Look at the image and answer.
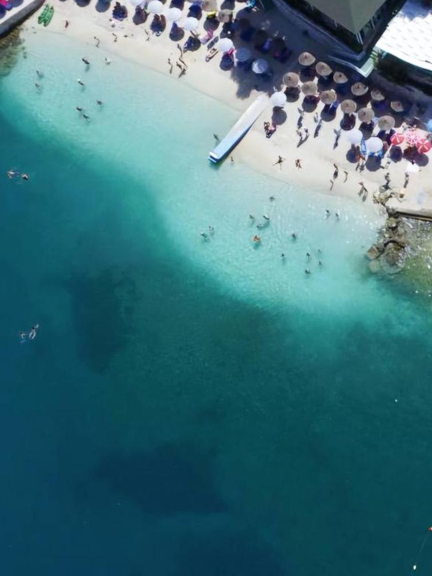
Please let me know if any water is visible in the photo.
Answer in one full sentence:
Yes, some water is visible.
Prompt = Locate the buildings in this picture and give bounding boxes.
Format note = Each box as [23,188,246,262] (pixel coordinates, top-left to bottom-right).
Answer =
[306,0,396,46]
[374,0,432,75]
